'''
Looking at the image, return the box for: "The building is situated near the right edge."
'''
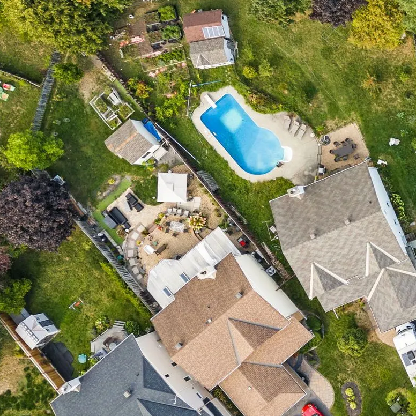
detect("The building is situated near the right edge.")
[268,161,416,333]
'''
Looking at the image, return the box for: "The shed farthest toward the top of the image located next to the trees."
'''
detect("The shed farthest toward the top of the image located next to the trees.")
[181,9,232,43]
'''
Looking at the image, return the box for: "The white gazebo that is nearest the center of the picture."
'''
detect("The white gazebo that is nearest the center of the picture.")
[157,174,195,203]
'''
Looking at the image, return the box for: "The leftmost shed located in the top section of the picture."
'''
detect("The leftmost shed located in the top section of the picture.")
[105,119,164,164]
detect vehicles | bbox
[300,402,323,416]
[395,321,416,391]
